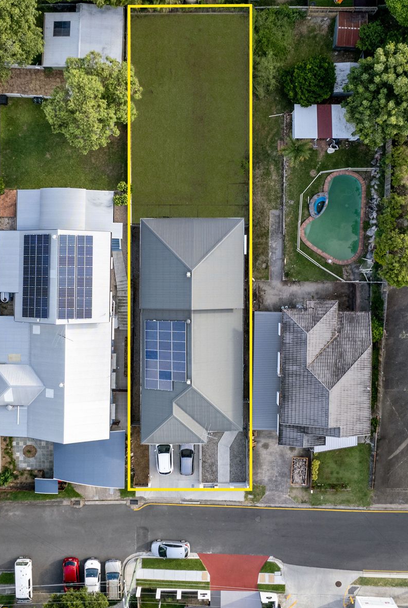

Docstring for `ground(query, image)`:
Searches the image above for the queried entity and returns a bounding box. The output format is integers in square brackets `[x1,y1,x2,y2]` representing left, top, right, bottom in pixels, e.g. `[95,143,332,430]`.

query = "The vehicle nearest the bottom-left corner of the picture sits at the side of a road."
[11,553,35,604]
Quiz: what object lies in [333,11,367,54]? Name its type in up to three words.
shed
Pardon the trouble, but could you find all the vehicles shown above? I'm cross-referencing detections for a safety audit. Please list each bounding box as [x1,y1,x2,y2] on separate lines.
[175,444,197,475]
[81,554,104,602]
[101,552,124,607]
[11,553,35,604]
[150,537,191,561]
[153,444,176,476]
[60,555,82,599]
